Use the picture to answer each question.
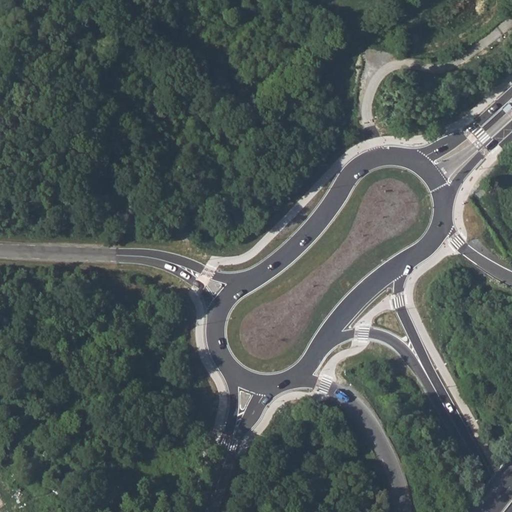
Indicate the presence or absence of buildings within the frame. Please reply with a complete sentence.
No, no building can be seen from above.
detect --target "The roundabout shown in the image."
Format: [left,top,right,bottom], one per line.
[116,82,512,463]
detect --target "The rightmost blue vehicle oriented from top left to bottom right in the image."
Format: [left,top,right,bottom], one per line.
[334,389,351,404]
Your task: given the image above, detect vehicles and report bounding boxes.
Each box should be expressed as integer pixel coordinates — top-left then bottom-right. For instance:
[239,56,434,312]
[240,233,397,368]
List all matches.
[300,236,312,246]
[446,402,454,413]
[269,262,279,270]
[194,282,203,290]
[278,380,290,388]
[490,104,501,113]
[262,394,272,404]
[220,338,226,348]
[180,272,190,279]
[486,140,498,150]
[235,290,246,298]
[164,264,176,271]
[503,100,512,110]
[334,389,351,404]
[468,122,478,130]
[355,170,366,178]
[404,264,412,275]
